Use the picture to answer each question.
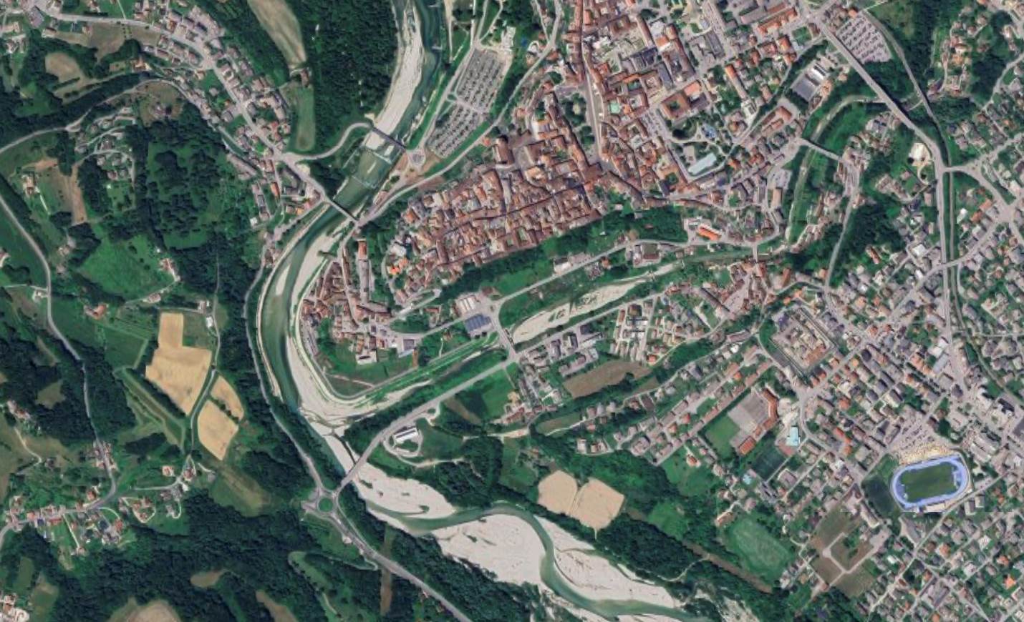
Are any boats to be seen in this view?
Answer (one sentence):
No, I can't see a single boat in this photo.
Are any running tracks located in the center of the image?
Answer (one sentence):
No, no running track can be made out in the center of the image.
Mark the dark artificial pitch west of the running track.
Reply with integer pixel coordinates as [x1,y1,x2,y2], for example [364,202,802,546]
[863,478,900,518]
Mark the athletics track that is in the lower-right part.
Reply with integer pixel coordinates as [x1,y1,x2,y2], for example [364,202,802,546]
[892,456,970,508]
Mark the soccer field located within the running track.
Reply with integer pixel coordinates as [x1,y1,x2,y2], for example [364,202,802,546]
[904,462,958,502]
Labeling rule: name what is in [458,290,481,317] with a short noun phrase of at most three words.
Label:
building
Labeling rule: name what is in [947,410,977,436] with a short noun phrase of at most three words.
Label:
building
